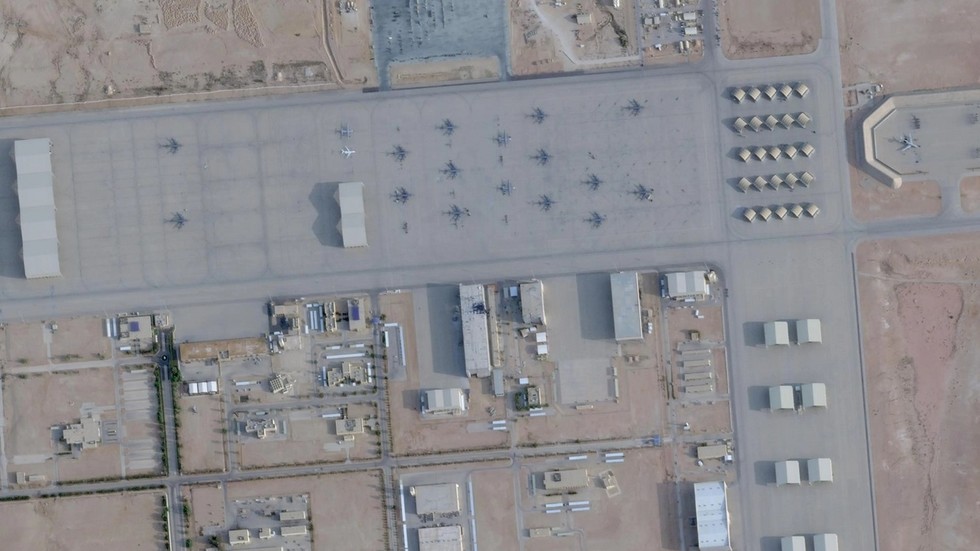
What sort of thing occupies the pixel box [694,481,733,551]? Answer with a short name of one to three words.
hangar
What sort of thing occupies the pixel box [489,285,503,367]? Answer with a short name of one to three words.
building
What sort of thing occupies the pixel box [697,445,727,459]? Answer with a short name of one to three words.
building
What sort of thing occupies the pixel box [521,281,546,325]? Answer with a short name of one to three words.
hangar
